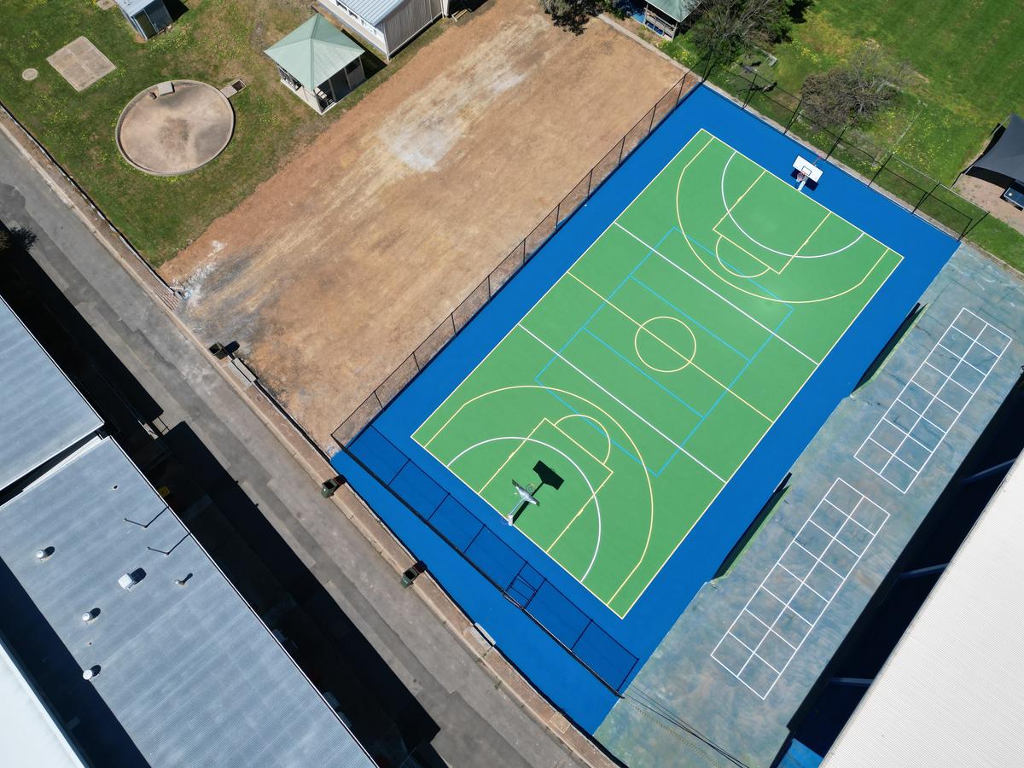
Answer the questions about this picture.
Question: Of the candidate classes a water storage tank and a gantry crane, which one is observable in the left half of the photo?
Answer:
water storage tank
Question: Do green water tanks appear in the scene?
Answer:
No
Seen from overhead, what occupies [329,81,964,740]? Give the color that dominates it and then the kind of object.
green sports court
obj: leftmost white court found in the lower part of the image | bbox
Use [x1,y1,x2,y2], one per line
[710,477,891,699]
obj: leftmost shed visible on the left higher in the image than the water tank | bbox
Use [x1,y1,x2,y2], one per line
[102,0,172,41]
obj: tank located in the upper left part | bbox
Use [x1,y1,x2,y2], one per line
[116,79,239,181]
